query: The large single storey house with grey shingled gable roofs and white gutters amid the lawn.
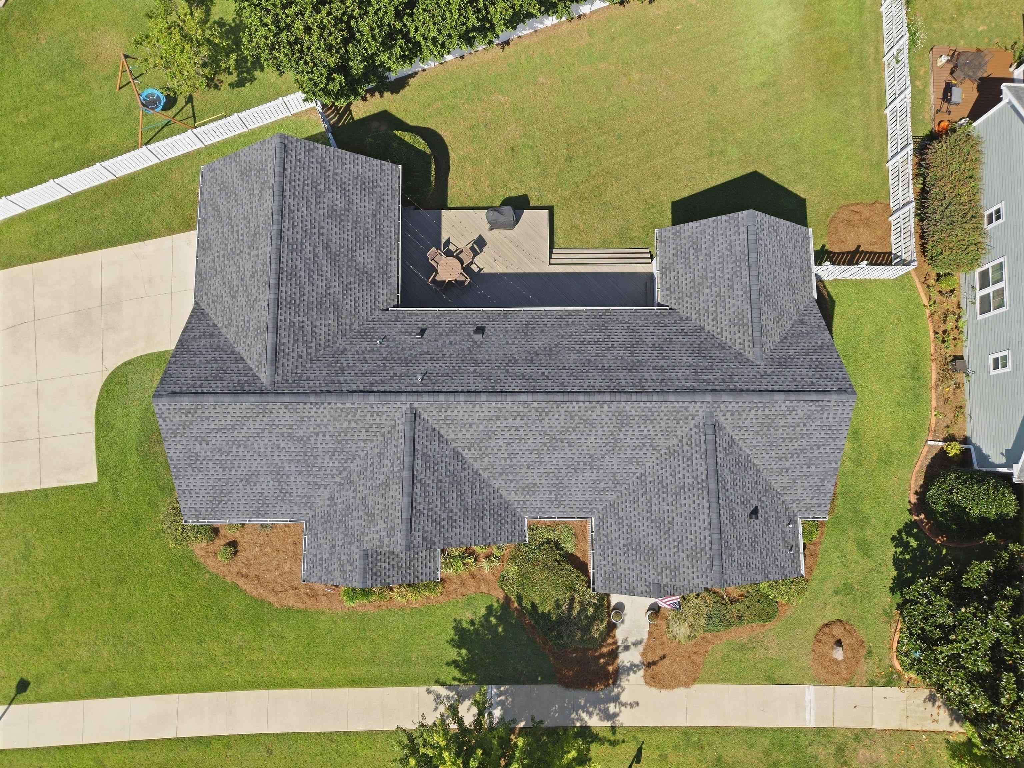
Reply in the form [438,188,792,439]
[152,134,858,598]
